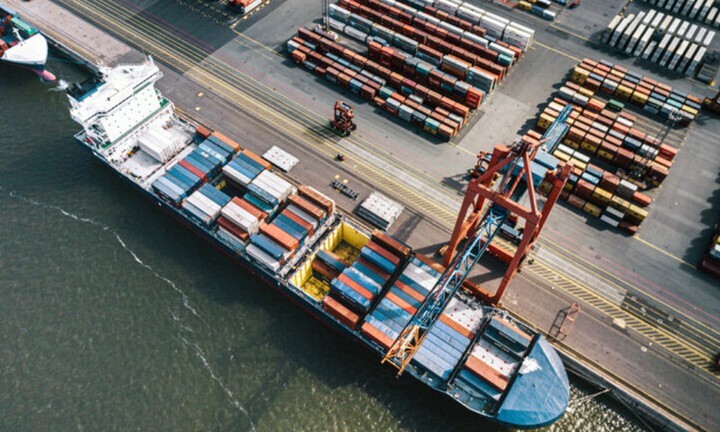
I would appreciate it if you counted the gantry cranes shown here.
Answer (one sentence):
My tally gives 1 gantry crane in this photo.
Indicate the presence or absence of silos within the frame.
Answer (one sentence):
No, there is no silo in the image.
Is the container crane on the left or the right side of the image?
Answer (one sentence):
The container crane is on the right side of the image.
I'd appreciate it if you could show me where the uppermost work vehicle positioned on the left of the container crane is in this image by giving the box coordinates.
[330,100,355,134]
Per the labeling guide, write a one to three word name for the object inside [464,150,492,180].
work vehicle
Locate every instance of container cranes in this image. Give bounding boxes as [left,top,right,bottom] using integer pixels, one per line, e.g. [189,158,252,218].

[382,102,576,372]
